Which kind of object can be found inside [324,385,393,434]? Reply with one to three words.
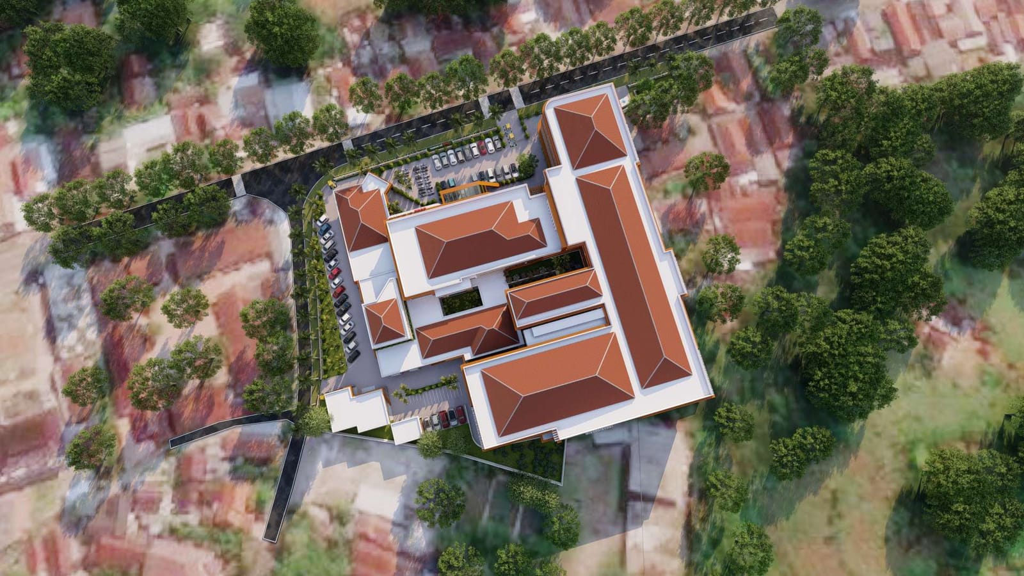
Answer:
building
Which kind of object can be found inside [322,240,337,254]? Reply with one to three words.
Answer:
car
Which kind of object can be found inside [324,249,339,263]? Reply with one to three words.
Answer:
car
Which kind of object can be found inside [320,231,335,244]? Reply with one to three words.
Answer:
vehicle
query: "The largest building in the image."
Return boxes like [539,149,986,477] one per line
[461,83,715,452]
